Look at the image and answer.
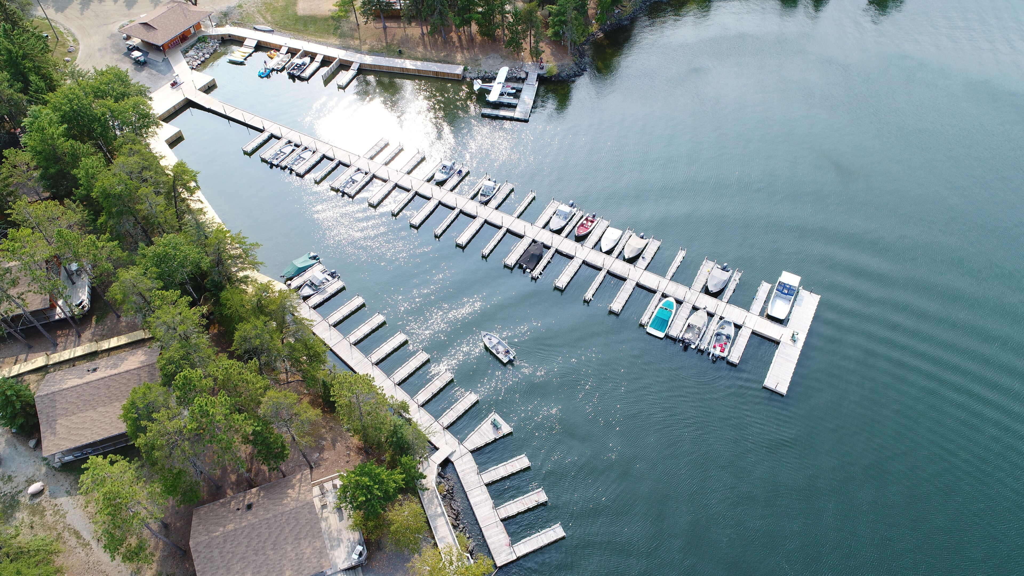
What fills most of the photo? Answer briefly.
water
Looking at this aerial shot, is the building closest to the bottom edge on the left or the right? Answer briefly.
left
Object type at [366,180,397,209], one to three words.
pier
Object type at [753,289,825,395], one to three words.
pier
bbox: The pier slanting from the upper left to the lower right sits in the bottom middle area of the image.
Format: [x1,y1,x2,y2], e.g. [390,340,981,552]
[297,302,518,567]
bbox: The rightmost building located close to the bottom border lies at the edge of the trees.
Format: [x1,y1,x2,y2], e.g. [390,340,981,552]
[189,470,333,576]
